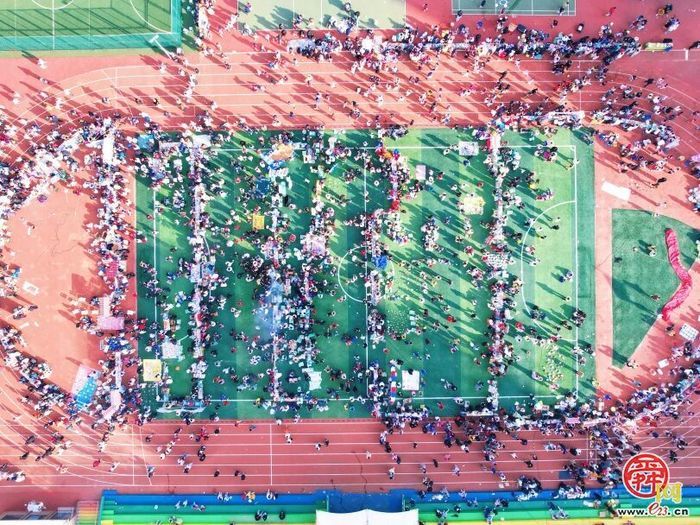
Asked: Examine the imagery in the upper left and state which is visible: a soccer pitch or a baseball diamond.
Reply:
soccer pitch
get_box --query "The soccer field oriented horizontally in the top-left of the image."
[0,0,178,51]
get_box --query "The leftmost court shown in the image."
[236,0,403,29]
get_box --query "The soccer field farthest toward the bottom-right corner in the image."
[136,129,596,420]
